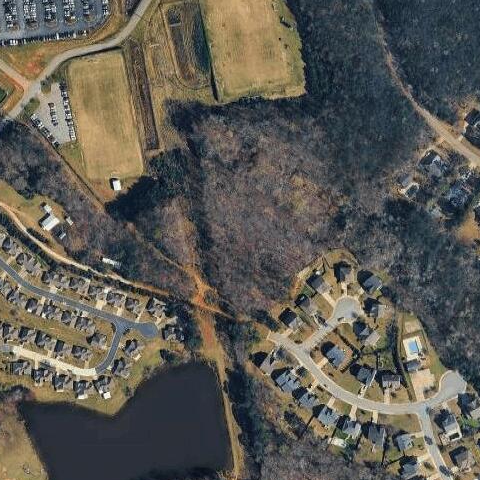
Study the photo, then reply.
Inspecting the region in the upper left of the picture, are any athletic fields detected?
Yes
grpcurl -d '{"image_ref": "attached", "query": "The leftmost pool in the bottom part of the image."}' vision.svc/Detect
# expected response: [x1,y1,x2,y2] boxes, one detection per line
[402,336,423,362]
